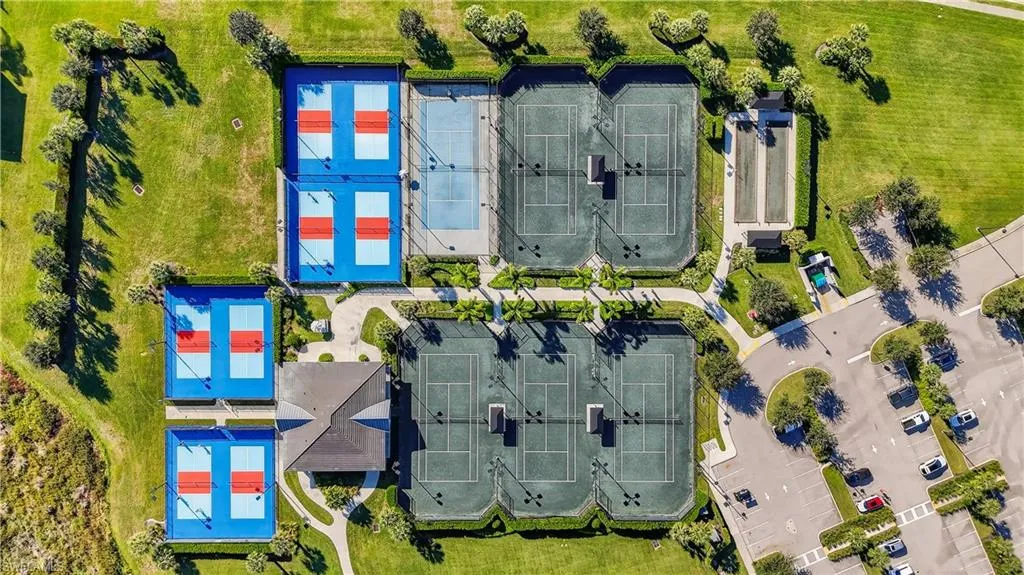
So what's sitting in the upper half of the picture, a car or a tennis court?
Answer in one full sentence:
Visible in the upper half of the picture is a tennis court.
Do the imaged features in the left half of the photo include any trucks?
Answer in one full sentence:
No, no truck appears in the left half of the photo.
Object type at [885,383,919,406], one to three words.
truck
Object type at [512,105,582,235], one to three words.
tennis court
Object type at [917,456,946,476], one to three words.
car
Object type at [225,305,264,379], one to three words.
sports court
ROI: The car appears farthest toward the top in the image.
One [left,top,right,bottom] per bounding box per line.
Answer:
[927,347,955,363]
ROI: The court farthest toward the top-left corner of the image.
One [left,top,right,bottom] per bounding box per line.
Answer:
[294,85,334,159]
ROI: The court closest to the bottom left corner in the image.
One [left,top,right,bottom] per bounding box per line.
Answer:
[173,445,214,520]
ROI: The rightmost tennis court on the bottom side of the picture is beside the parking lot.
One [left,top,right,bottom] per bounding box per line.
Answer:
[609,354,680,482]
